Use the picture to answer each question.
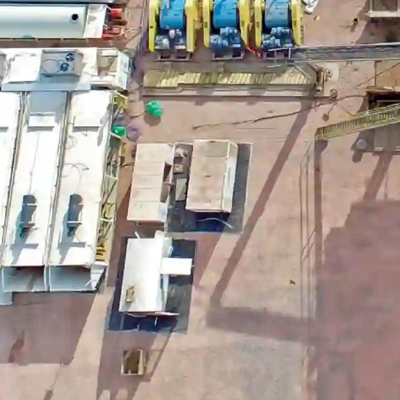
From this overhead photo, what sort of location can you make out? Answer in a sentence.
The picture captures an industrial area.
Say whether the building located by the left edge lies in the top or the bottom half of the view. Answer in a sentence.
The top half of the photo is where the building located by the left edge is.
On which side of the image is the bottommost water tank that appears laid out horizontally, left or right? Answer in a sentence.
It is on the left.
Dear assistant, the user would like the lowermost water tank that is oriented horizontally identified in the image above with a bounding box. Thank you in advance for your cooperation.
[0,3,113,40]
